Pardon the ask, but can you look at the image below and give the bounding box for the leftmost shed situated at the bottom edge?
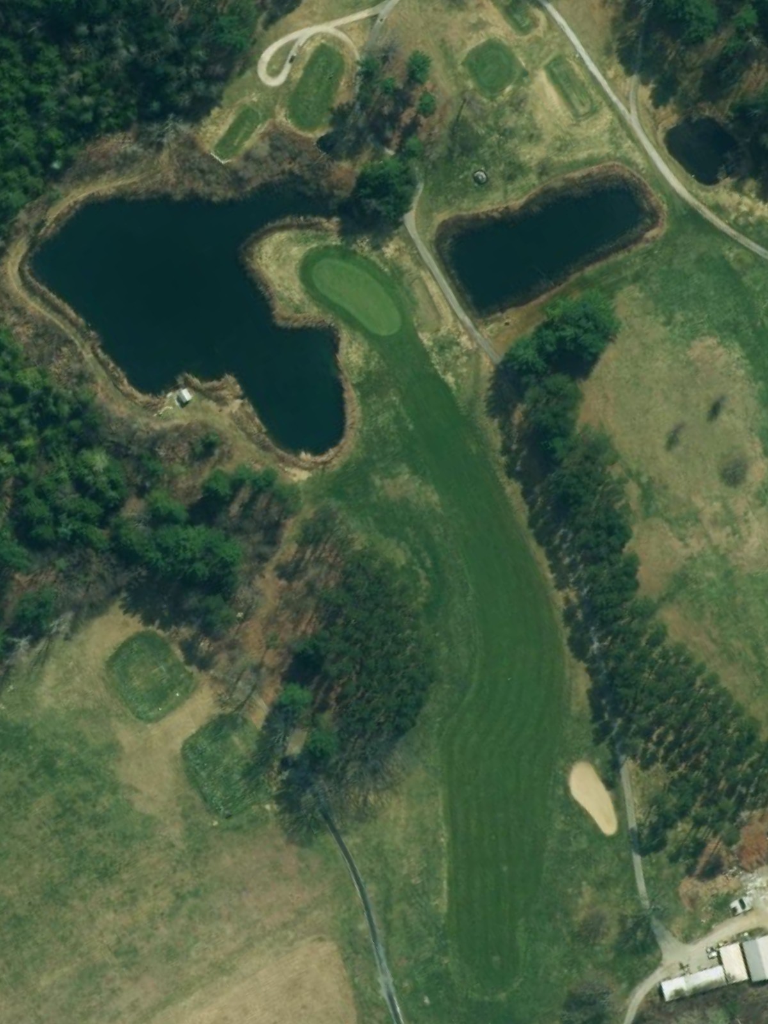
[661,966,727,1002]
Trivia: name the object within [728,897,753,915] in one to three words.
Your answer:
vehicle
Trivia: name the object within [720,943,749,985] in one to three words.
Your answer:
shed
